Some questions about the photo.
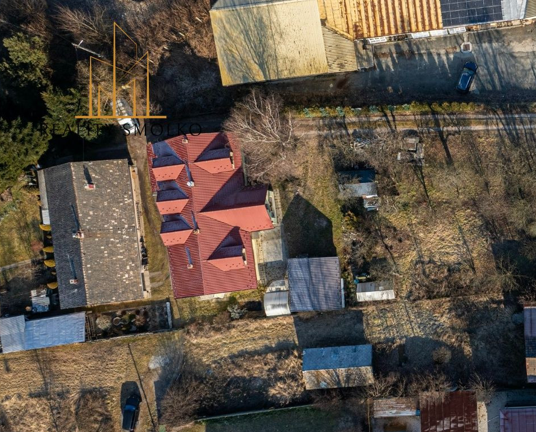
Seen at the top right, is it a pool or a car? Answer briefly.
car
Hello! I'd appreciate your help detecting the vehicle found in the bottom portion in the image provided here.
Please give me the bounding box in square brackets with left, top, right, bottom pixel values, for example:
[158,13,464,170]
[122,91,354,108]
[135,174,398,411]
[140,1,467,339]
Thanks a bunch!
[121,394,144,430]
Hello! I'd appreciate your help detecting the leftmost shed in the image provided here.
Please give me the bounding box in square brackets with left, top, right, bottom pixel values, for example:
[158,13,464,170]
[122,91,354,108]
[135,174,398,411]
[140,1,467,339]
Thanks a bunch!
[0,312,94,352]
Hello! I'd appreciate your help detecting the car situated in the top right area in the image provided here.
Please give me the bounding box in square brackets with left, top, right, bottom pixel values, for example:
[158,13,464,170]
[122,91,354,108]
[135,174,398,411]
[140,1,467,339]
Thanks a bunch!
[455,61,479,96]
